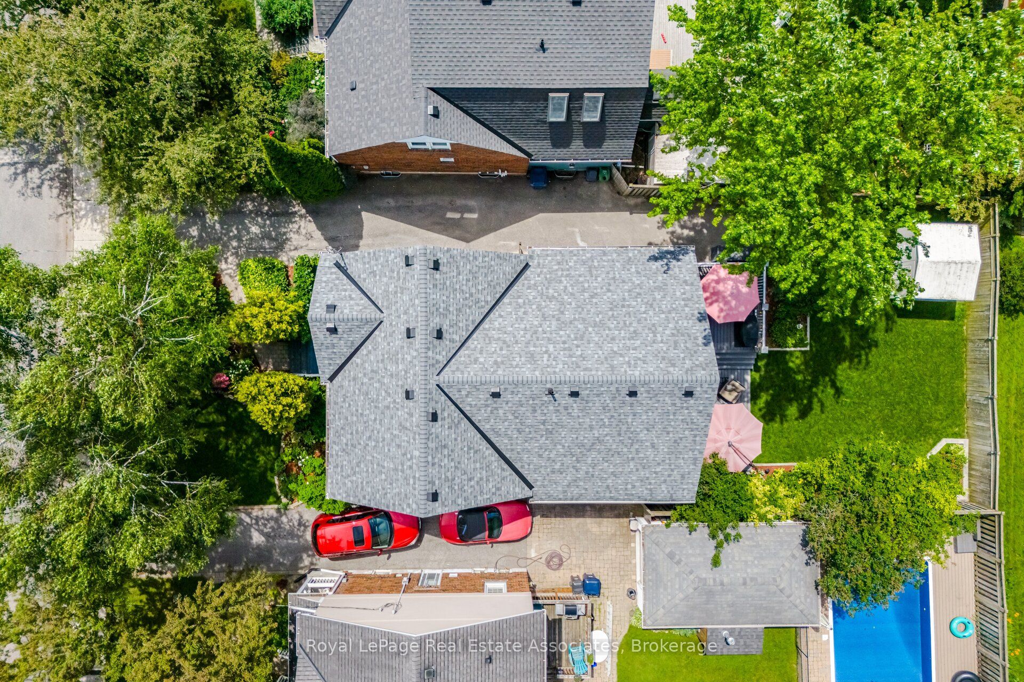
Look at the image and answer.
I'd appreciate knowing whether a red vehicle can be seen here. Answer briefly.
Yes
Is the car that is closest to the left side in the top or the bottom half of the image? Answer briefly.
bottom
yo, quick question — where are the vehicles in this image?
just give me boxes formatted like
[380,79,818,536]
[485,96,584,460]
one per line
[310,508,421,558]
[440,502,532,550]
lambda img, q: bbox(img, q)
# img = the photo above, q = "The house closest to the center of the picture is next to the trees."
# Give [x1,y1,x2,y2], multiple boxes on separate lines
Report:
[297,242,716,518]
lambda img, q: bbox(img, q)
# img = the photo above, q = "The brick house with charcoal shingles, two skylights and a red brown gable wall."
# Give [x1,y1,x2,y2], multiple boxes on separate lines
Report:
[313,0,654,183]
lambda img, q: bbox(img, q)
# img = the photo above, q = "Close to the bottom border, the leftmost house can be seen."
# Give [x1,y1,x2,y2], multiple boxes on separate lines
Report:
[278,562,548,682]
